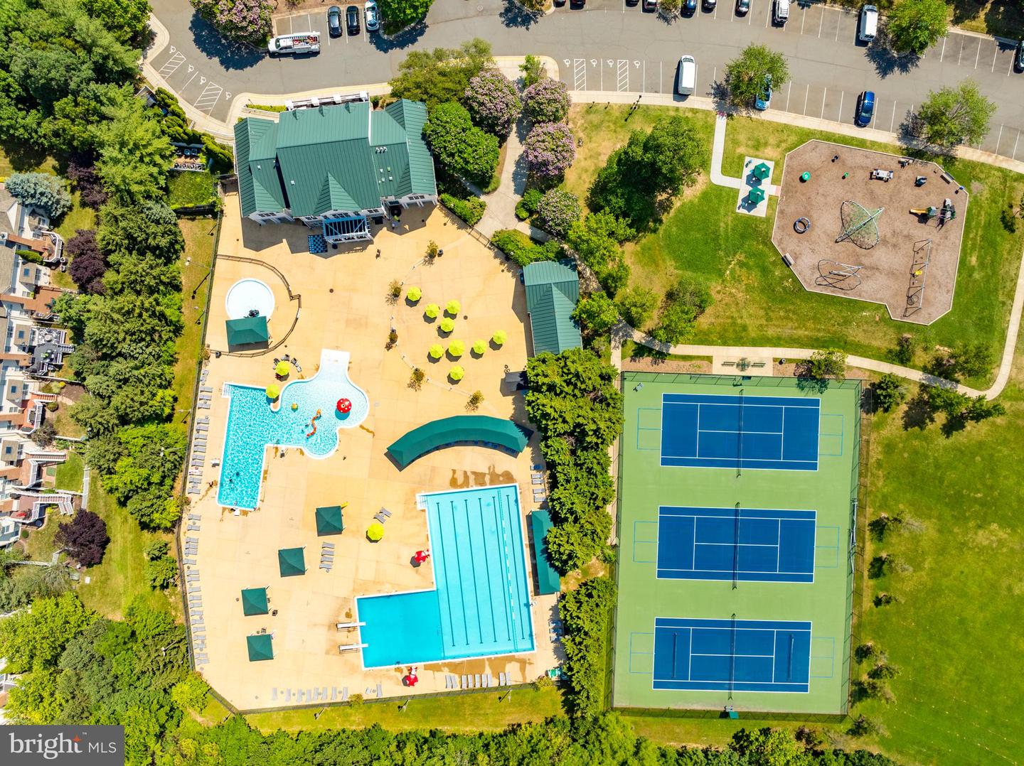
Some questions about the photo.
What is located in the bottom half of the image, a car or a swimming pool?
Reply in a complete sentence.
Visible in the bottom half of the image is a swimming pool.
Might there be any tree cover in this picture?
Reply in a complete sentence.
Yes, tree cover can be seen from above here.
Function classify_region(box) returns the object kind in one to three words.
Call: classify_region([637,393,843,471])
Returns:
tennis court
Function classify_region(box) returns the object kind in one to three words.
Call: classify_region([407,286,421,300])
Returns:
umbrella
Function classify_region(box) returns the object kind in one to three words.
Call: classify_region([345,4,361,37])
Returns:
car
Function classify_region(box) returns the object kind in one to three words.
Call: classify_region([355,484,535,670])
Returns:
swimming pool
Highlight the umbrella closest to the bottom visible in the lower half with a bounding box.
[404,673,417,687]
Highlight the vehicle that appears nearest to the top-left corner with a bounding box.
[273,32,319,56]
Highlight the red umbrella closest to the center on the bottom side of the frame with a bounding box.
[414,551,427,564]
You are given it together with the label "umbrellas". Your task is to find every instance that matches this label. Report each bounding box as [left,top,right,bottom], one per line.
[450,365,464,379]
[446,300,460,314]
[266,384,281,398]
[368,523,384,539]
[414,551,427,564]
[440,318,454,332]
[404,673,417,687]
[754,162,770,180]
[448,339,464,355]
[748,186,765,204]
[407,286,421,300]
[390,206,400,216]
[424,303,438,317]
[473,340,487,354]
[275,362,289,375]
[429,343,443,357]
[493,330,506,344]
